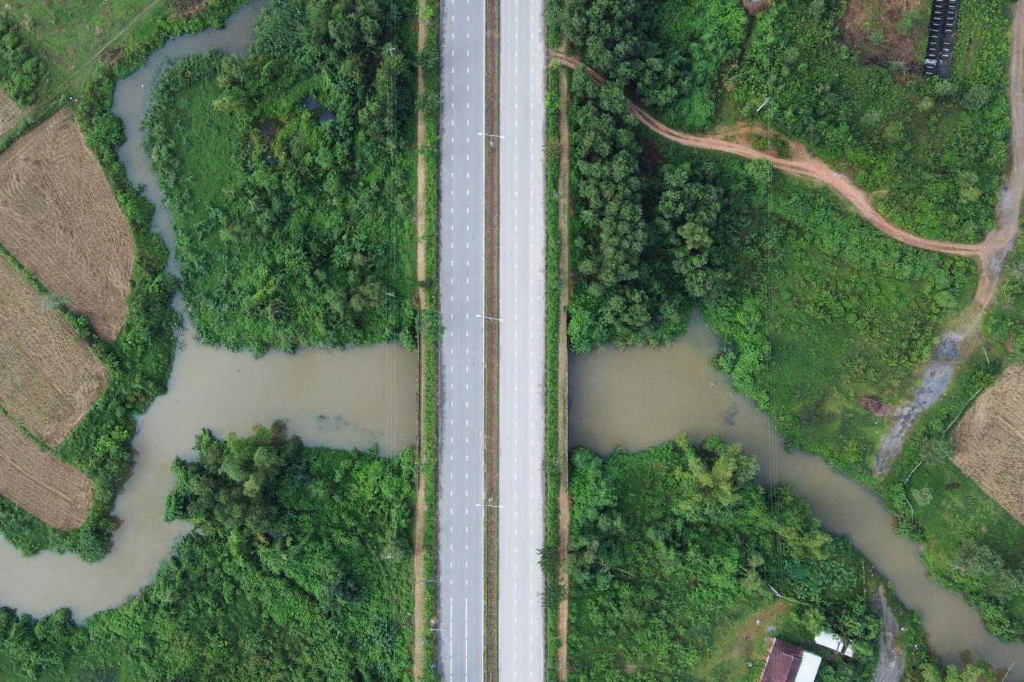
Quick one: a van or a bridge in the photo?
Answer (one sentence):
Of the two, only a bridge appears.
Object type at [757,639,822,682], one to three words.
house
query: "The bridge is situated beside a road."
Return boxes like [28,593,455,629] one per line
[416,303,569,495]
